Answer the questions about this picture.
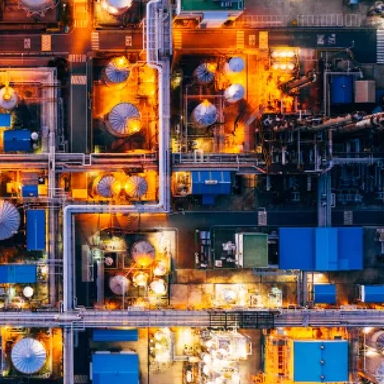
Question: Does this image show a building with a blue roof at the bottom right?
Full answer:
Yes, you'll find a building with a blue roof at the bottom right.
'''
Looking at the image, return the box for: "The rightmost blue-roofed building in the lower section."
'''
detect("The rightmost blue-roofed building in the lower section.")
[357,283,384,302]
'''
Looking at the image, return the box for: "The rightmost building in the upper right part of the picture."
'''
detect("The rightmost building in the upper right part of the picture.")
[347,80,375,104]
